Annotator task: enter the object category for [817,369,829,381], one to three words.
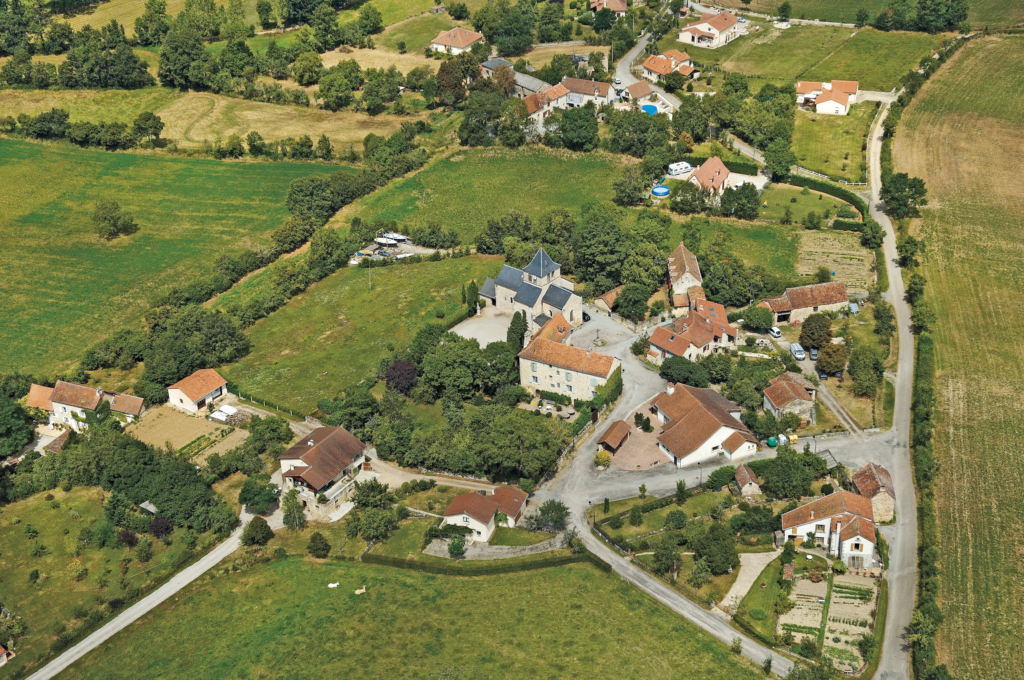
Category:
vehicle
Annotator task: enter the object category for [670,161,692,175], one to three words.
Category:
camper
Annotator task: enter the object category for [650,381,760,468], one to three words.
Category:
building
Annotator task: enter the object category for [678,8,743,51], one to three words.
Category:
house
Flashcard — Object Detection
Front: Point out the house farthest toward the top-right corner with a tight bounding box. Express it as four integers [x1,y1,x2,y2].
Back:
[795,77,859,116]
